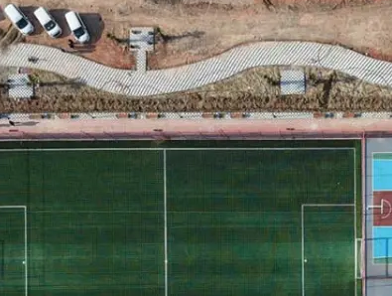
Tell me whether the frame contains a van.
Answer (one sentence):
Yes, the photo shows a van.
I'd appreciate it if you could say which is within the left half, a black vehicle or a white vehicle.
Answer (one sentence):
The one visible within the left half is a white vehicle.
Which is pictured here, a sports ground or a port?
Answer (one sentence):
The area seen from above is a sports ground.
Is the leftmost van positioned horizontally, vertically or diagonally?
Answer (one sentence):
The leftmost van is laid out diagonally.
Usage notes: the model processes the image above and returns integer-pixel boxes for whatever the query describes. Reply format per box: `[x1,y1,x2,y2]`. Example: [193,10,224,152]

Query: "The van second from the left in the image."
[31,5,63,38]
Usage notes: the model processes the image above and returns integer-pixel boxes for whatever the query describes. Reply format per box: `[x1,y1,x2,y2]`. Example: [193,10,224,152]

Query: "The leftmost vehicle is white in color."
[2,1,35,35]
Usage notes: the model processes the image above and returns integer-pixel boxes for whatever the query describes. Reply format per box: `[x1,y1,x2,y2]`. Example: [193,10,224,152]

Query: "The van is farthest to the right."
[62,9,91,44]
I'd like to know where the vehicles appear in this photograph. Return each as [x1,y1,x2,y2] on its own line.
[31,5,63,38]
[62,9,91,44]
[2,1,35,35]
